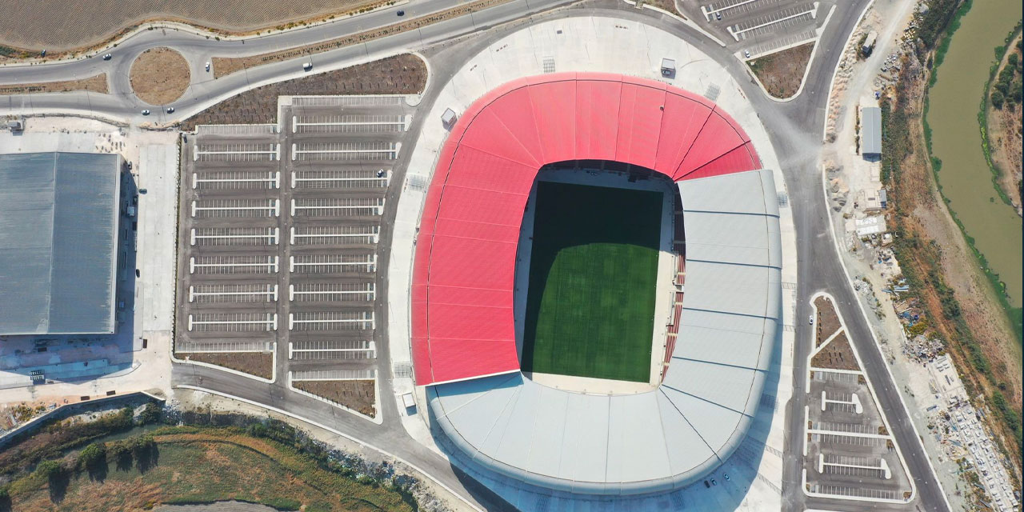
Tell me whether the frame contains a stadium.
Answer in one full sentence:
Yes, the photo shows a stadium.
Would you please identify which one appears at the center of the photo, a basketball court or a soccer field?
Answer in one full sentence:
You can see a soccer field at the center of the photo.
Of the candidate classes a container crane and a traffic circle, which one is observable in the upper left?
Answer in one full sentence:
Looking in the upper left, you will find a traffic circle.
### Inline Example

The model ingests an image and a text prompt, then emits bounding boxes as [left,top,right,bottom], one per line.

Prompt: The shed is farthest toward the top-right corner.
[860,107,882,154]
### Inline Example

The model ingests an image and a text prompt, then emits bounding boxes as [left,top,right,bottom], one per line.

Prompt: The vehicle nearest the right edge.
[861,27,879,52]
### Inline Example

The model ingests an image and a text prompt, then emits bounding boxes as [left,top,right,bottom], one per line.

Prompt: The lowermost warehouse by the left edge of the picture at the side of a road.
[0,151,124,335]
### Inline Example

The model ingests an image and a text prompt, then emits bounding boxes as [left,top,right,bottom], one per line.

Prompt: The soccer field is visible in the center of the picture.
[522,182,663,383]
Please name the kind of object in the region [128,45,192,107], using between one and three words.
roundabout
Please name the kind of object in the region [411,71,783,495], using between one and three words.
stadium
